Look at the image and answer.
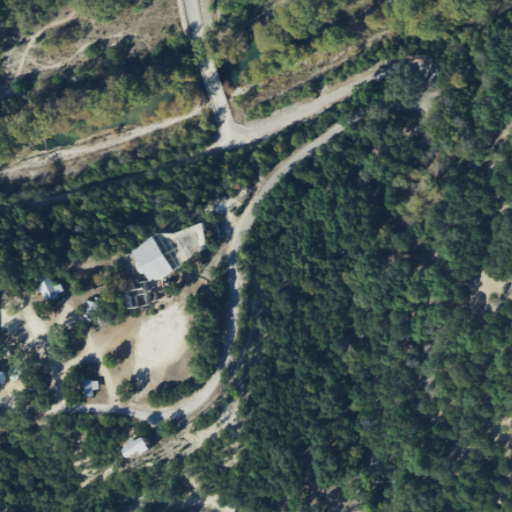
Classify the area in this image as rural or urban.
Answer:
rural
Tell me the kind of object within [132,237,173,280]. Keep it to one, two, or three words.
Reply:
building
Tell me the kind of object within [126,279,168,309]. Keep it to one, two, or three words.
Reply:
building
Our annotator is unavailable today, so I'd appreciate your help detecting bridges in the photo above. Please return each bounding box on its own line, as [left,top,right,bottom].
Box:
[196,44,225,103]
